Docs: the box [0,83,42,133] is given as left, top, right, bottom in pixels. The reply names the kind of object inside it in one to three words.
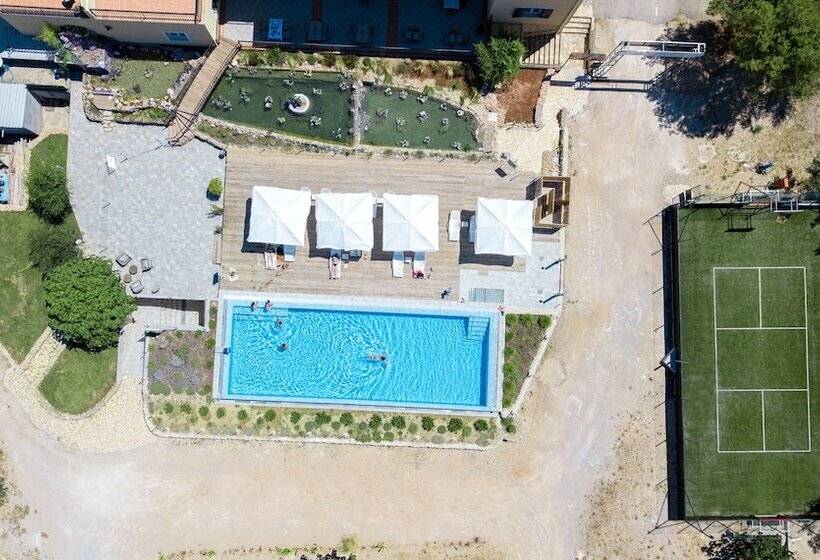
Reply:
shed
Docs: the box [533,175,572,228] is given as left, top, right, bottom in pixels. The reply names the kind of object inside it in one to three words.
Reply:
building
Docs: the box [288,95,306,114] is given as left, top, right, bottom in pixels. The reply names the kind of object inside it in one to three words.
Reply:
fountain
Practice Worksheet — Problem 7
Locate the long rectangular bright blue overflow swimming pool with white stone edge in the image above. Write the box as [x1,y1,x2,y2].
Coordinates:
[212,290,504,415]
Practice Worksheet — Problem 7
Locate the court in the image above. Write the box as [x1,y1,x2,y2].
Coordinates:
[677,203,820,517]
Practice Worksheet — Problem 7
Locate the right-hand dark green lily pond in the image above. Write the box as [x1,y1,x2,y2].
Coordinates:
[360,86,478,149]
